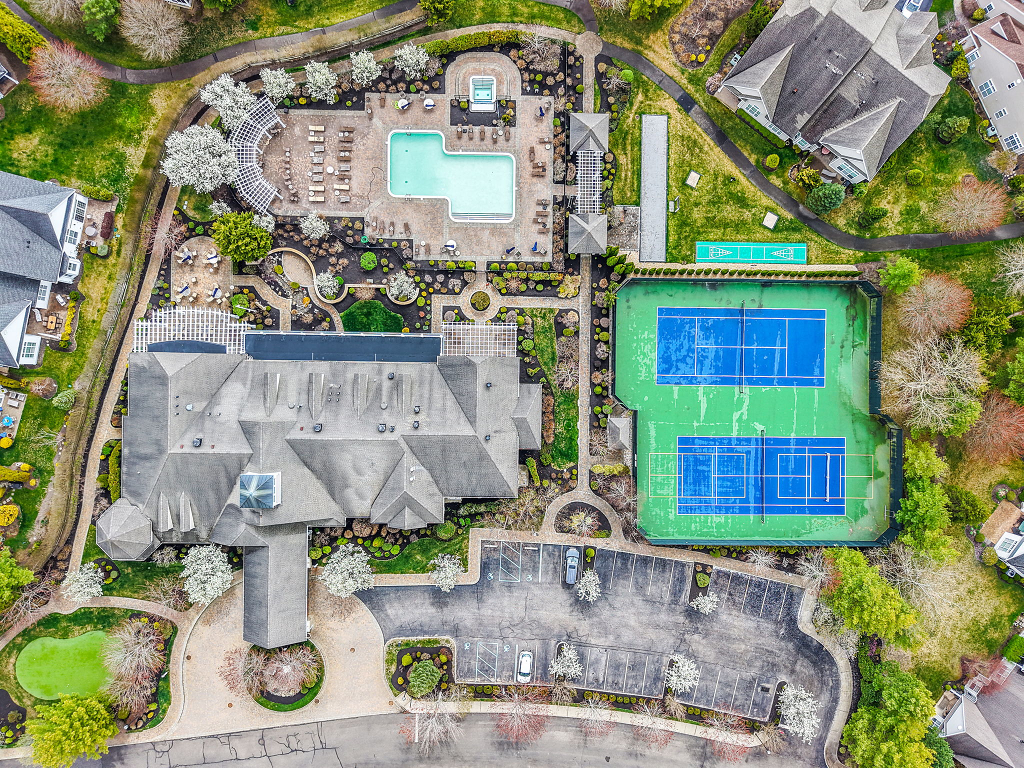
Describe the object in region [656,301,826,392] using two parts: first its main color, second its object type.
blue tennis court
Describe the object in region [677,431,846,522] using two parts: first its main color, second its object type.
blue tennis court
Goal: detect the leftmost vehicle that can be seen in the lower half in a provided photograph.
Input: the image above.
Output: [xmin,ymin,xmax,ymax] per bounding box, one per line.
[517,650,533,682]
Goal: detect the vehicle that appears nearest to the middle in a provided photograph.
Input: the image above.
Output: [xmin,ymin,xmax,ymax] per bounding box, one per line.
[564,547,581,584]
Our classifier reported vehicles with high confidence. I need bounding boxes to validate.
[564,547,581,584]
[517,650,533,682]
[903,0,924,16]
